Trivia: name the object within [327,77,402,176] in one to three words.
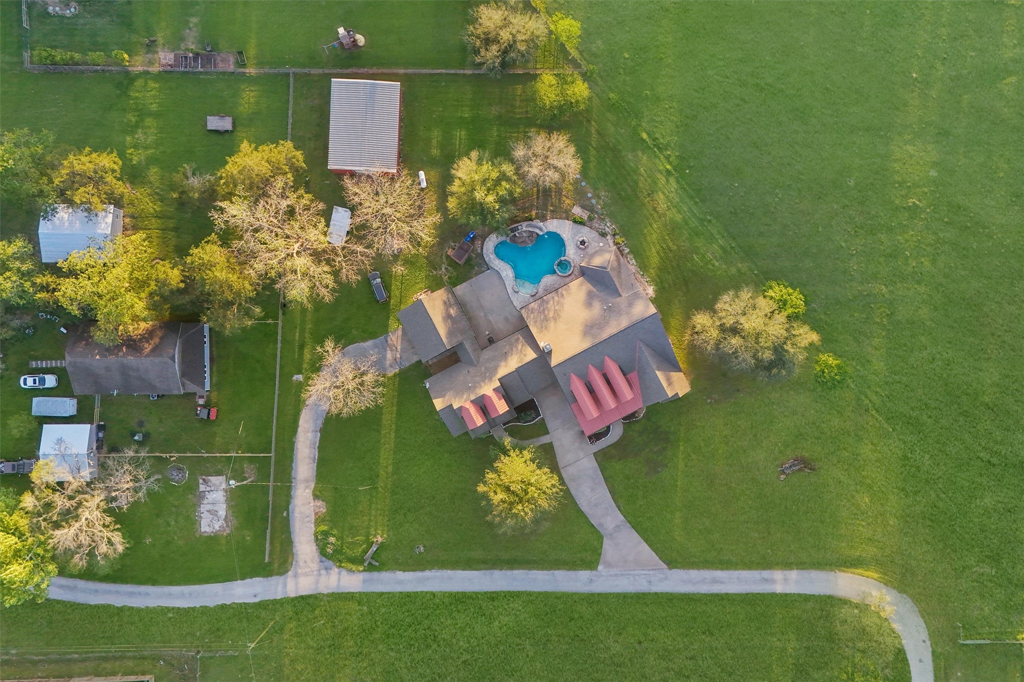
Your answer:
barn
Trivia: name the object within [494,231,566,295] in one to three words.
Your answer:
swimming pool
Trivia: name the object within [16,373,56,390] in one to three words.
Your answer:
car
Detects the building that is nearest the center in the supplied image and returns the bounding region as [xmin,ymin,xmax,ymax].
[397,245,692,440]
